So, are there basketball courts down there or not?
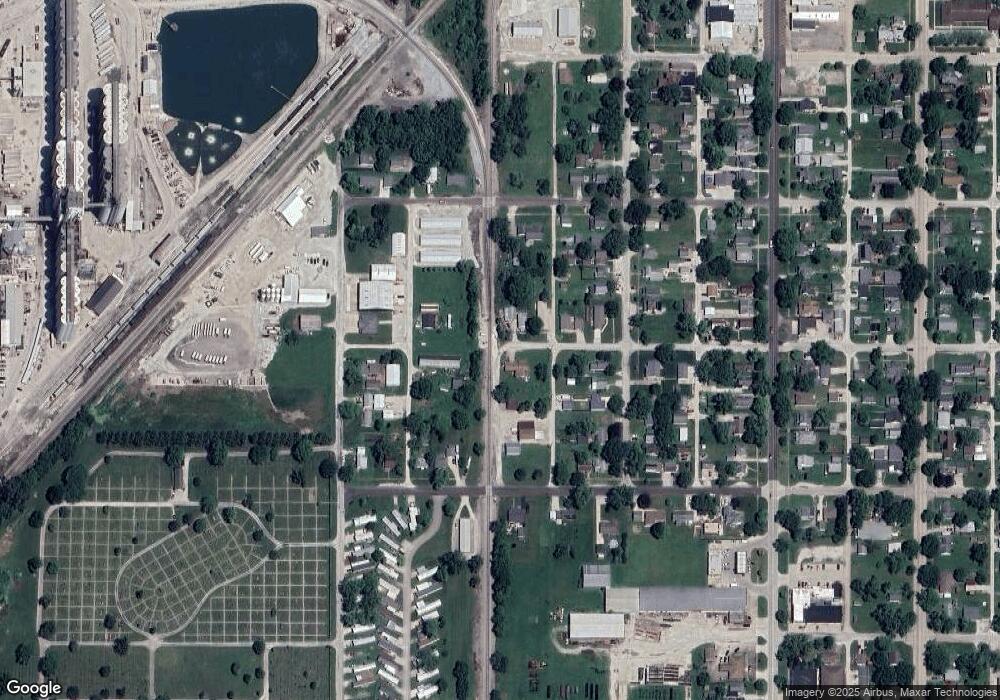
No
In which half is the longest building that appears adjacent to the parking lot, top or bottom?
bottom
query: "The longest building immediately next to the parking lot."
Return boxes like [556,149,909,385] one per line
[639,587,747,613]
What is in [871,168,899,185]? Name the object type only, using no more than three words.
house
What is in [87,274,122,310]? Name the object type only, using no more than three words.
shed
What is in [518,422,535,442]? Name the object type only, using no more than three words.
house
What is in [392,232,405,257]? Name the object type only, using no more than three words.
building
